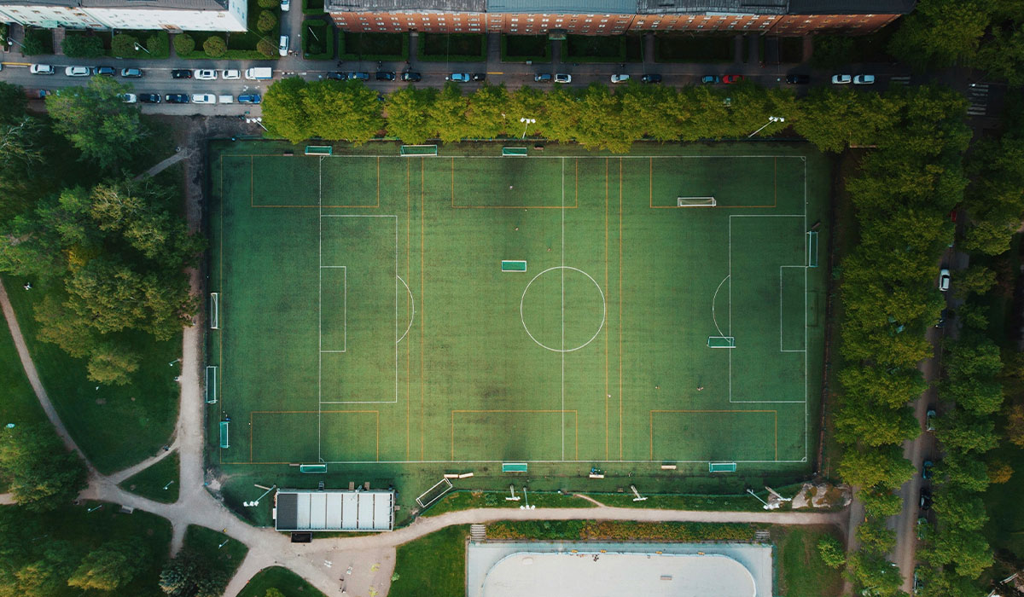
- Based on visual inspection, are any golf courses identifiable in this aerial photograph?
No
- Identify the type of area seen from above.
sports ground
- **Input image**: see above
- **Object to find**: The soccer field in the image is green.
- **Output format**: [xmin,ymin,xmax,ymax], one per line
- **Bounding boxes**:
[208,141,830,529]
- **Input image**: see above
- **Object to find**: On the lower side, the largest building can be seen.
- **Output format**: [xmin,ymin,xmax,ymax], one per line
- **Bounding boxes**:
[274,488,396,532]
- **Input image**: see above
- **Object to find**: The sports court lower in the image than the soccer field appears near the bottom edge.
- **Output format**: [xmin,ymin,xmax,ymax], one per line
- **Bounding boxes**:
[465,540,775,597]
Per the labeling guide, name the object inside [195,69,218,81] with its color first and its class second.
white vehicle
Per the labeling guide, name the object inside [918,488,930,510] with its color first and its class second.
black vehicle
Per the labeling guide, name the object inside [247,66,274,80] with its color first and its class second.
white vehicle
